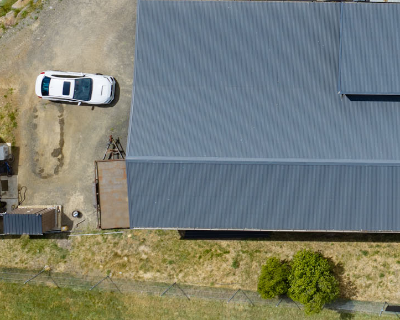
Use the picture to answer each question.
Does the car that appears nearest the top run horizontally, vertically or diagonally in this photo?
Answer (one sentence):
What the image shows is the car that appears nearest the top lying horizontally.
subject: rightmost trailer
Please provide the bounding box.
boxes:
[91,133,129,229]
